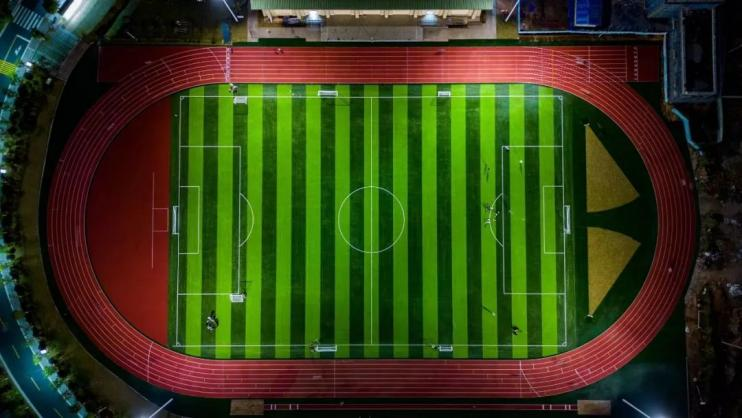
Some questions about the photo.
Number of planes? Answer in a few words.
none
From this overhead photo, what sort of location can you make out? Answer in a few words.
sports ground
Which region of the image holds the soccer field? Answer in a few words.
center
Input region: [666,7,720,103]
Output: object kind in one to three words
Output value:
building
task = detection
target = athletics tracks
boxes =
[47,46,695,398]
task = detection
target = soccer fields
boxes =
[167,85,575,358]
